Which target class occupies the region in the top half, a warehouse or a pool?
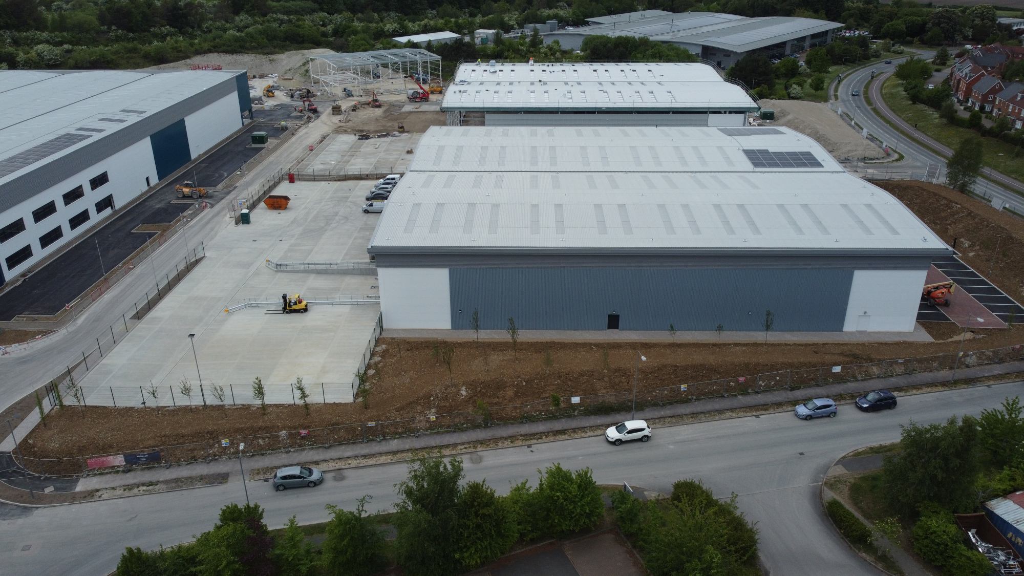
warehouse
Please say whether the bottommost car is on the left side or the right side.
left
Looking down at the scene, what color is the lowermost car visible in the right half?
white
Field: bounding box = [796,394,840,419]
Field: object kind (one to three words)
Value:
car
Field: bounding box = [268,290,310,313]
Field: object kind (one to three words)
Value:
work vehicle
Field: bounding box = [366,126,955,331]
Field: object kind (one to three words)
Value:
warehouse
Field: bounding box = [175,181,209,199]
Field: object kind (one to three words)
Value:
work vehicle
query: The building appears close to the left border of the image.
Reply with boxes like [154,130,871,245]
[0,64,262,286]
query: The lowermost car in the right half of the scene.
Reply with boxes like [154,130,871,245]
[605,418,653,444]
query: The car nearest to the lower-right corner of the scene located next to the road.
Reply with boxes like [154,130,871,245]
[856,387,899,411]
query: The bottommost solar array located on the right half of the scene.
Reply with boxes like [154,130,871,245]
[738,149,823,167]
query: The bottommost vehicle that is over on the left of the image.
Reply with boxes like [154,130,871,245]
[270,464,321,491]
